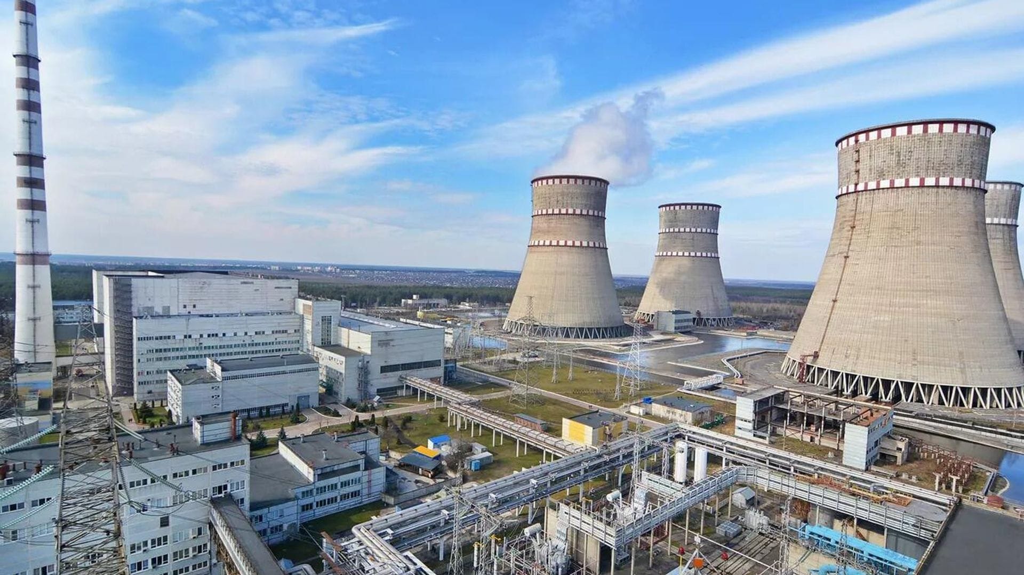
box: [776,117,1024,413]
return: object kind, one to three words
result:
cooling tower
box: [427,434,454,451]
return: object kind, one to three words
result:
building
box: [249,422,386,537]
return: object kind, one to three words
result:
building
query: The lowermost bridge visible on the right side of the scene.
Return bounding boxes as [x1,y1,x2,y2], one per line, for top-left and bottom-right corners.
[681,371,734,392]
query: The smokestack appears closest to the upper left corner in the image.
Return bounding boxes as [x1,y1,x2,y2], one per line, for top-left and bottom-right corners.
[9,0,55,373]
